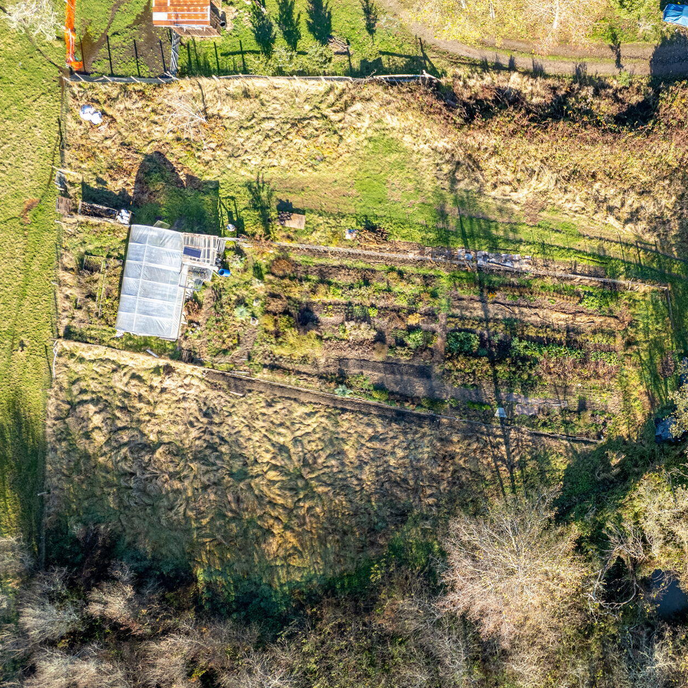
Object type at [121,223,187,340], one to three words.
greenhouse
